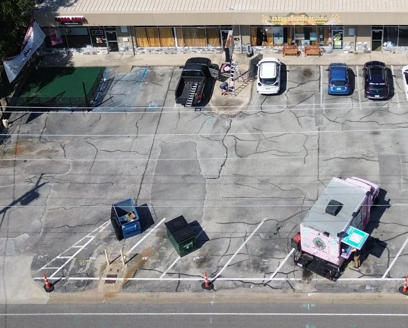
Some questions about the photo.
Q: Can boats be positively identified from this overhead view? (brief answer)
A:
No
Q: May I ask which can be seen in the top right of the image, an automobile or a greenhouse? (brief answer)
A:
automobile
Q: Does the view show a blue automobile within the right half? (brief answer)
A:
Yes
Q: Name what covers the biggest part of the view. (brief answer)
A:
paved ground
